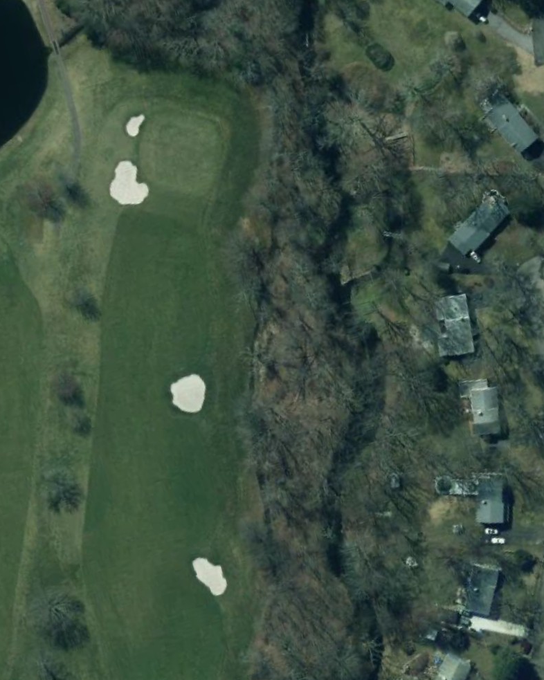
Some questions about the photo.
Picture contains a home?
Yes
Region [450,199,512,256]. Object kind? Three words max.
house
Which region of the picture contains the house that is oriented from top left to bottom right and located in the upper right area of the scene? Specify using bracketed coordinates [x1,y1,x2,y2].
[488,88,539,152]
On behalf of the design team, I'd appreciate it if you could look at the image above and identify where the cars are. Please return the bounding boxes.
[470,251,481,263]
[486,529,497,534]
[522,640,532,653]
[477,14,488,24]
[491,537,504,544]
